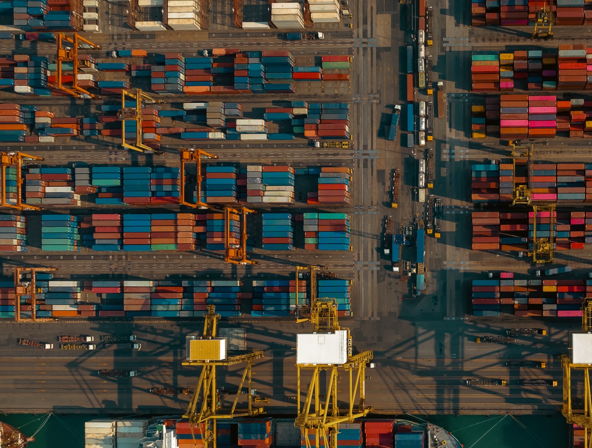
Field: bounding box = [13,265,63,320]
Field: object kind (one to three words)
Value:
container crane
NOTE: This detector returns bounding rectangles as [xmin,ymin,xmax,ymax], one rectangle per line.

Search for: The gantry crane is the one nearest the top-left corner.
[54,32,103,98]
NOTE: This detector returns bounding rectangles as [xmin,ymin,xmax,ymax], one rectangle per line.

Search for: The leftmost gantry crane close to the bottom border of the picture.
[183,301,269,448]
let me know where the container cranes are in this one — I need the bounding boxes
[183,301,269,448]
[0,149,50,210]
[528,206,557,264]
[54,32,103,98]
[13,265,63,320]
[550,294,592,448]
[179,147,219,209]
[294,264,327,322]
[224,207,262,264]
[297,295,377,448]
[121,90,163,153]
[508,147,536,207]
